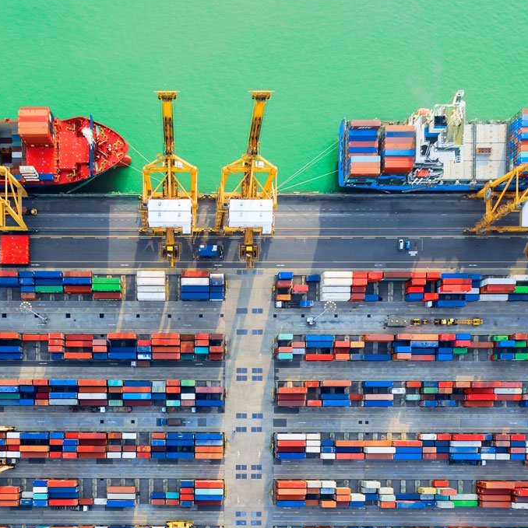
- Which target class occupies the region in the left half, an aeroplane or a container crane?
container crane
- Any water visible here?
Yes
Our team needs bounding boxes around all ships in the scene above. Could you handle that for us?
[334,88,528,192]
[0,114,135,193]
